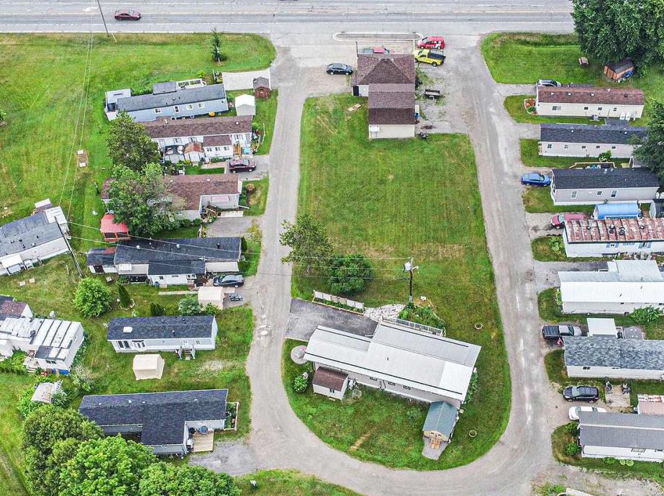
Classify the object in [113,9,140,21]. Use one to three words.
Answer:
vehicle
